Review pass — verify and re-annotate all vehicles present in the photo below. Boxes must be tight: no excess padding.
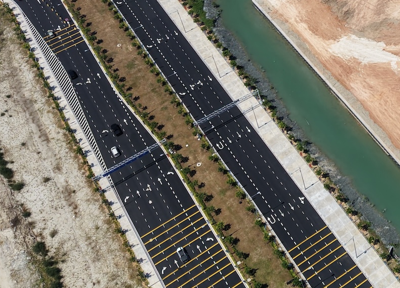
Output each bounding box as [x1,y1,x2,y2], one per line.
[110,146,120,156]
[176,246,189,263]
[112,124,122,135]
[46,28,55,37]
[69,68,77,79]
